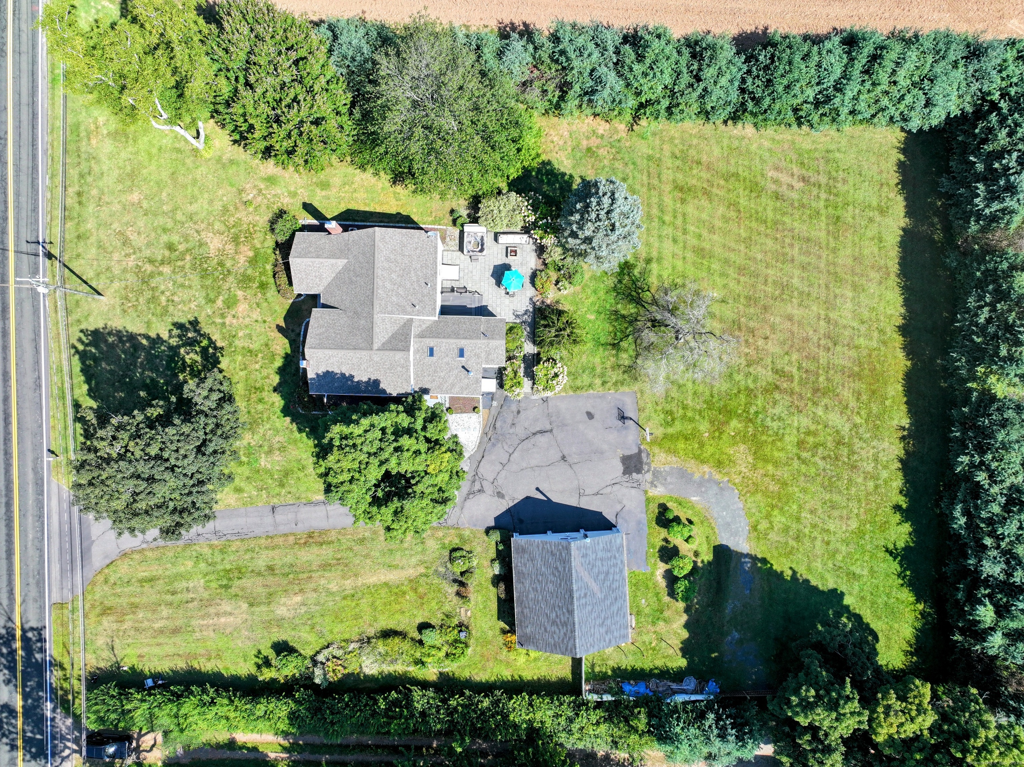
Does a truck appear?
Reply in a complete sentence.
No, the scene contains no truck.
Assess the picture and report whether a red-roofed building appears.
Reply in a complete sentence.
No, I can't see a single red-roofed building in this photo.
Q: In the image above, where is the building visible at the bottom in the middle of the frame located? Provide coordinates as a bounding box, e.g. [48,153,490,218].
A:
[510,525,632,657]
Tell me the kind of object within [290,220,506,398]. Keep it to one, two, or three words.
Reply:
house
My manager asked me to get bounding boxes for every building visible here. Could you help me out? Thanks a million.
[510,525,632,657]
[290,220,506,398]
